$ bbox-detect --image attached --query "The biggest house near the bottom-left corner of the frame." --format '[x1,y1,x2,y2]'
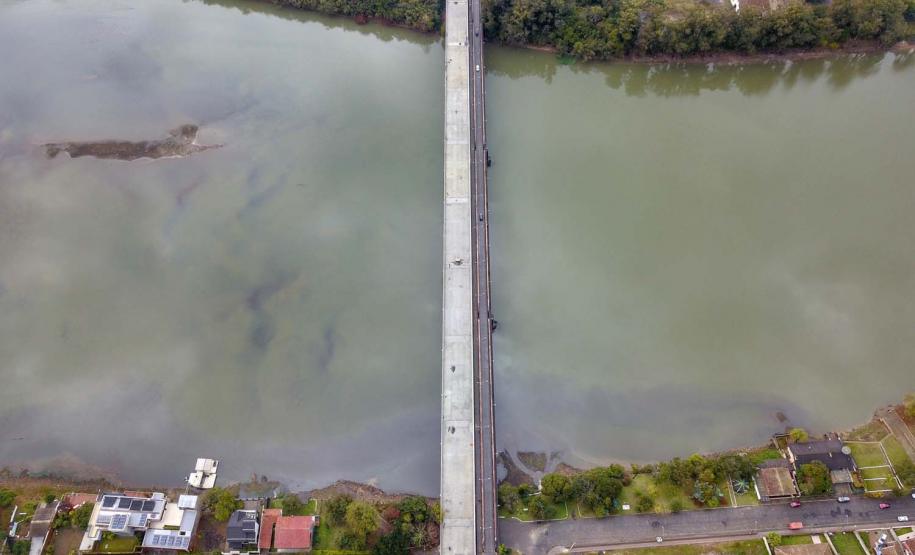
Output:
[79,492,203,551]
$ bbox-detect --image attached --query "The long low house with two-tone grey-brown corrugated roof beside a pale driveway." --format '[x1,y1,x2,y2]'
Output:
[29,502,62,537]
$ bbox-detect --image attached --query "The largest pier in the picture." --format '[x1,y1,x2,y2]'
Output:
[184,458,221,495]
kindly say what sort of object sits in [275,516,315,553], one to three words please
house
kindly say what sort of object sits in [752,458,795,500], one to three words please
house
